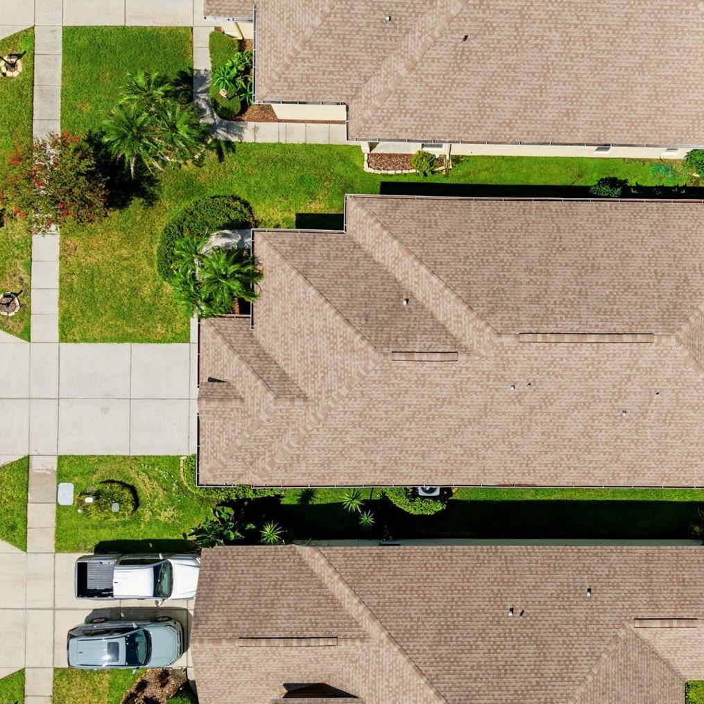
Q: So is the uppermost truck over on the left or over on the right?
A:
left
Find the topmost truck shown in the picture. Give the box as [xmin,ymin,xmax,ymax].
[74,550,199,607]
